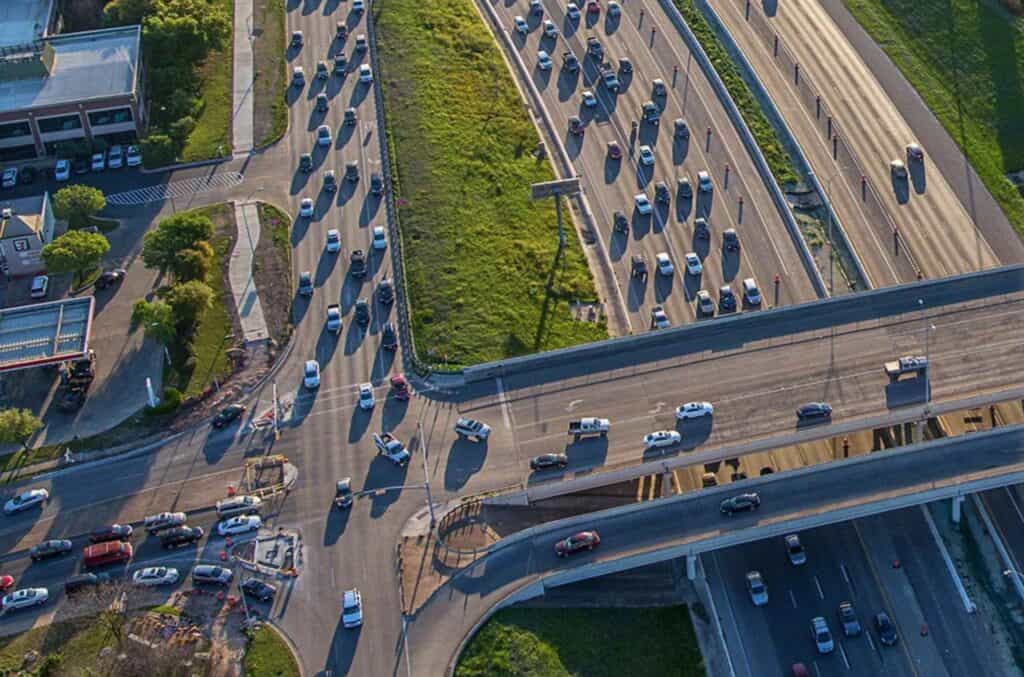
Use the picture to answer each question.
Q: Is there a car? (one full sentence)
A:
Yes, the frame does contain a car.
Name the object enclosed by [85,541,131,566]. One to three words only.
vehicle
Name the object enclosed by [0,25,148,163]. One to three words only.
building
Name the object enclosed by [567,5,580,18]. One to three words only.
vehicle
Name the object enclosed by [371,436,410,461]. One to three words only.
truck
